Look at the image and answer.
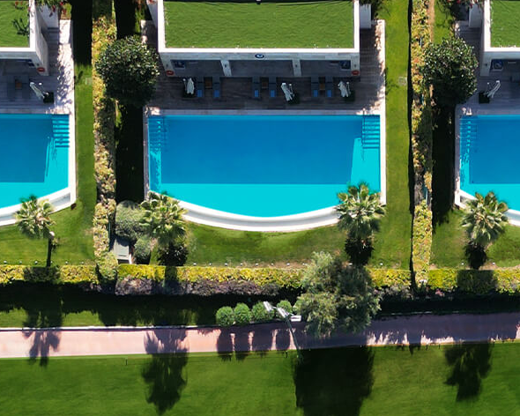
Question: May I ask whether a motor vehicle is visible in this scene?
No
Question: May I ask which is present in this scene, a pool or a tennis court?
pool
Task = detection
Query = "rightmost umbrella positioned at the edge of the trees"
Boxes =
[478,83,492,105]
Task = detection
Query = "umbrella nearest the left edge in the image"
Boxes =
[37,83,55,103]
